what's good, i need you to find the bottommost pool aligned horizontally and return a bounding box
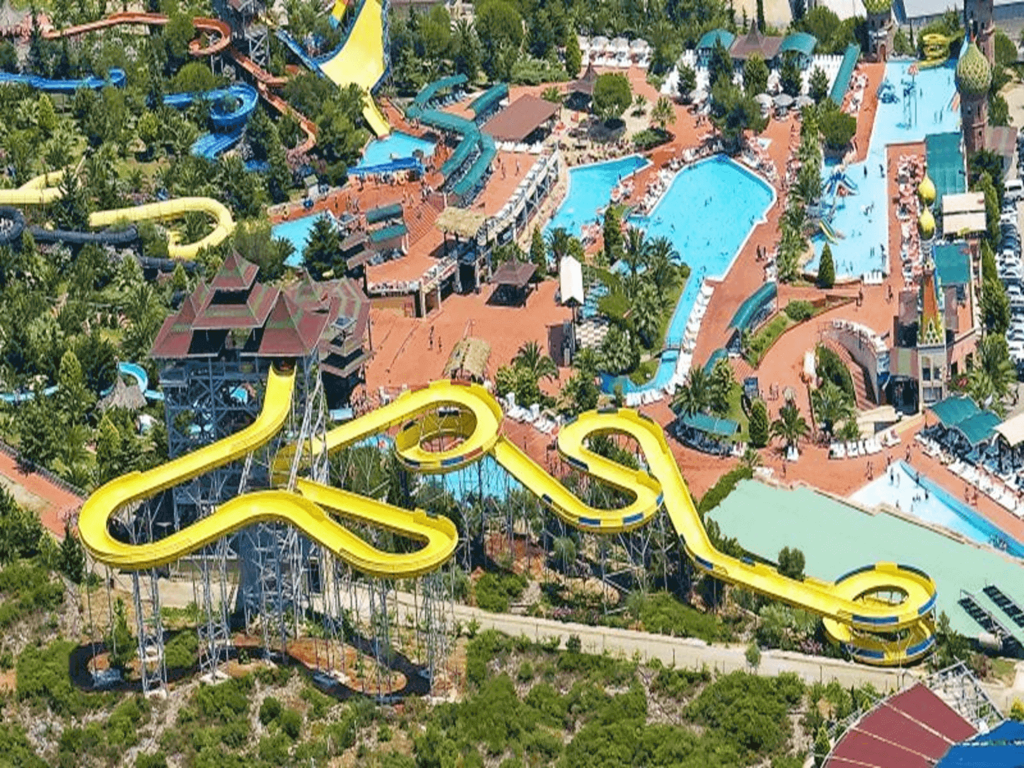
[435,457,530,504]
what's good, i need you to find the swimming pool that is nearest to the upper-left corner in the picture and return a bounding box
[273,211,337,264]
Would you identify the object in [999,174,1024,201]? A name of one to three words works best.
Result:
vehicle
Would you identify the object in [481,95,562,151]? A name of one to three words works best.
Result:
building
